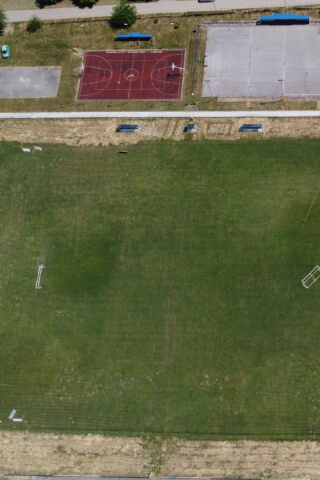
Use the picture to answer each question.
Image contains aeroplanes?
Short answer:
No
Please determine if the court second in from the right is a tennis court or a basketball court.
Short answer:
basketball court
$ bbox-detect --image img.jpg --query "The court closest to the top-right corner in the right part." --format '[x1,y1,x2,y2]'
[200,22,320,100]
